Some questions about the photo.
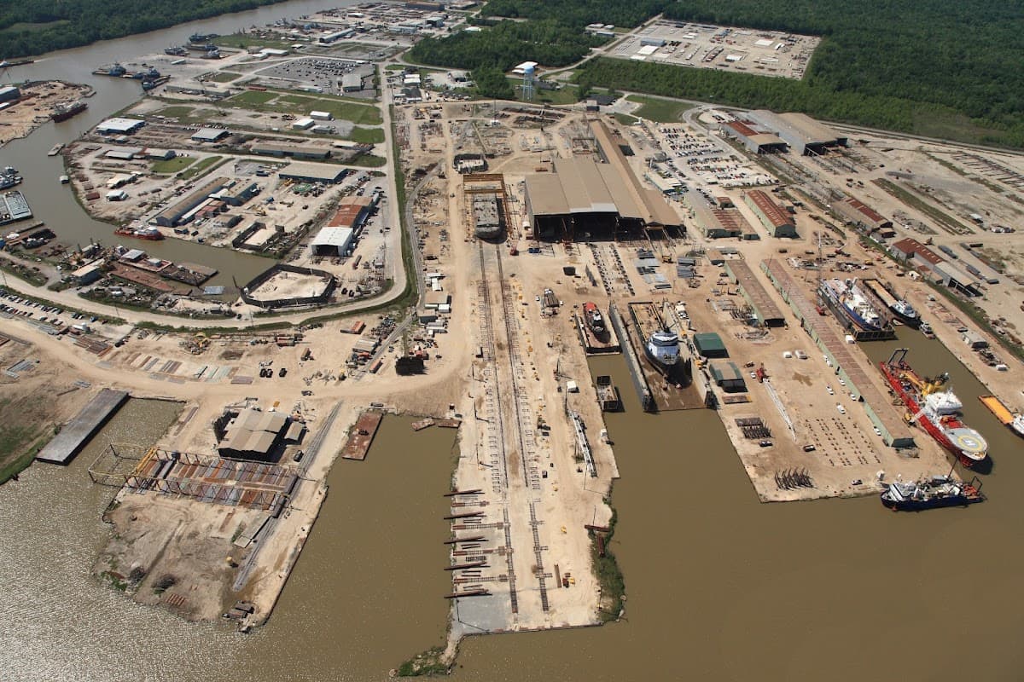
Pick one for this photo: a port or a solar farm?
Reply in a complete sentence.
It's a port.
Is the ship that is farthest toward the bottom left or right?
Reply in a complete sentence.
The ship that is farthest toward the bottom is on the right side of the image.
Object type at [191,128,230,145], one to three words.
shed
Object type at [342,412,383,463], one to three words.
ship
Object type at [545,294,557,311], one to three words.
vehicle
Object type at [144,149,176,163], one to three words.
building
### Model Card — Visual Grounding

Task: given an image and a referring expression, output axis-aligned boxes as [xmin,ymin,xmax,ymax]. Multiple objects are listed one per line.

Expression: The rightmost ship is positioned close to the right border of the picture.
[977,395,1024,456]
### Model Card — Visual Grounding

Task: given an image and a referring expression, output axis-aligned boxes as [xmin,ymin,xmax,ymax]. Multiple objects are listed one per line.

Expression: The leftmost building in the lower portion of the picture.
[219,410,289,467]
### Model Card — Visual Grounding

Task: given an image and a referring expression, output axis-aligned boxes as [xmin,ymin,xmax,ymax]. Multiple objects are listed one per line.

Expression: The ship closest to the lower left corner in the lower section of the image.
[34,390,129,467]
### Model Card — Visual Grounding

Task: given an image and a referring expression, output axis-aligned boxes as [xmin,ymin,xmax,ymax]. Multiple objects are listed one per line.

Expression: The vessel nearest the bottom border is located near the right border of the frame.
[880,445,992,510]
